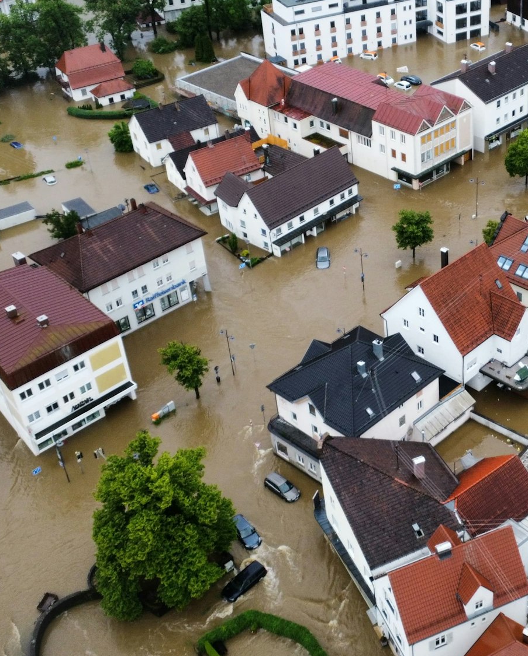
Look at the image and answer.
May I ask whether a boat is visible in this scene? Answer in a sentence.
No, the photo shows no boat.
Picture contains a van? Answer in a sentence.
Yes, you can see a van in this photo.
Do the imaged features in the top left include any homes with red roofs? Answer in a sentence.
Yes, you'll find a home with a red roof in the top left.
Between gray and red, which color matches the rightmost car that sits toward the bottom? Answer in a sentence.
The rightmost car that sits toward the bottom is gray.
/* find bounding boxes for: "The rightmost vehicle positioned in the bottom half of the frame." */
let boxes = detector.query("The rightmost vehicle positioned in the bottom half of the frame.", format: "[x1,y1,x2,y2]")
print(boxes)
[259,471,303,505]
